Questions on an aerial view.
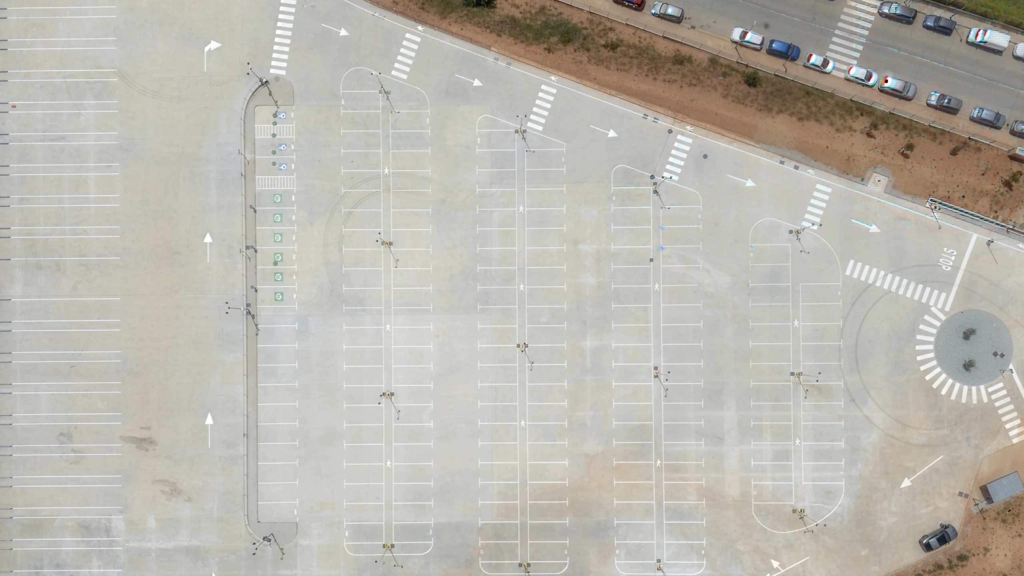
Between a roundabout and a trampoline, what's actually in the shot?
roundabout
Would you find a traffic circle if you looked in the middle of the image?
No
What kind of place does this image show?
parking lot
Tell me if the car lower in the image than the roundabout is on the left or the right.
right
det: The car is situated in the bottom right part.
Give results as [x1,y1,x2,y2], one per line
[917,524,957,551]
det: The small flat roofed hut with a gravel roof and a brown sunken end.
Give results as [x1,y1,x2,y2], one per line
[979,471,1024,505]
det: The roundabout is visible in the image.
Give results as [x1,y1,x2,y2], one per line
[933,307,1014,387]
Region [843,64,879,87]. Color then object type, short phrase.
white car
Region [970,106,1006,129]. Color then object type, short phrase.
gray car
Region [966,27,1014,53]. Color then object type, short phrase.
white vehicle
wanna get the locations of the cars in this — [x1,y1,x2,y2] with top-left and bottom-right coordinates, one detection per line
[1014,44,1024,60]
[1009,119,1024,137]
[922,13,959,36]
[843,64,879,87]
[730,27,765,50]
[926,92,964,115]
[878,76,918,100]
[917,524,957,551]
[802,52,836,74]
[614,0,646,10]
[651,1,686,23]
[765,39,801,61]
[878,0,919,24]
[970,106,1006,129]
